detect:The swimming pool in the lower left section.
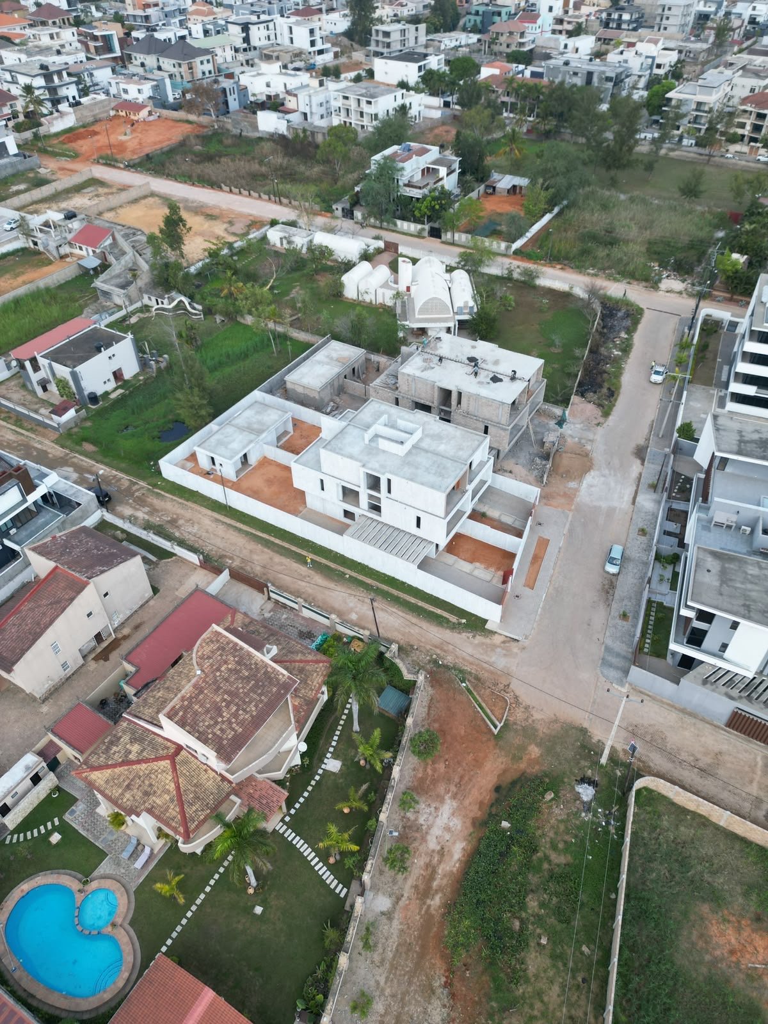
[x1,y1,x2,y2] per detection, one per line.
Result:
[0,868,141,1020]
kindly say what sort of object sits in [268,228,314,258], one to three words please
building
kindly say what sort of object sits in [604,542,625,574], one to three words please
car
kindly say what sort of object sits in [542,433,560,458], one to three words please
shed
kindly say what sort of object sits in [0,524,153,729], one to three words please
house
